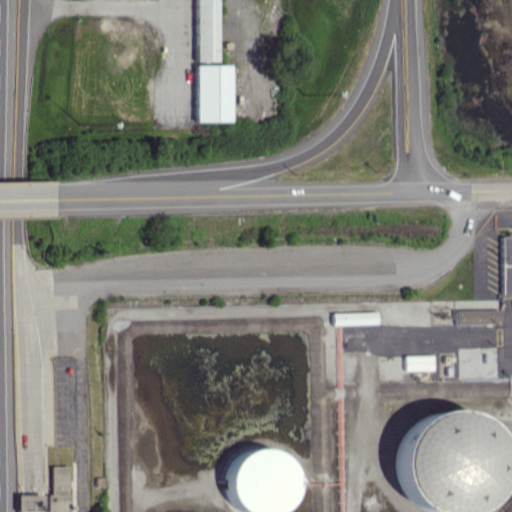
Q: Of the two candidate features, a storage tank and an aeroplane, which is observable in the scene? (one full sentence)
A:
I can see a storage tank in this picture.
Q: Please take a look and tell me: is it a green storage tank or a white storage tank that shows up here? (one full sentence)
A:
Of the two, only a white storage tank appears.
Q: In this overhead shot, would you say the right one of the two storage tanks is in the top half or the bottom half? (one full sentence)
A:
The bottom half of the photo is where the right one of the two storage tanks is.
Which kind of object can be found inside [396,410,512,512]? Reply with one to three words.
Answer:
storage tank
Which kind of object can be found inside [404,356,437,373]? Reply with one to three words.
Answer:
shed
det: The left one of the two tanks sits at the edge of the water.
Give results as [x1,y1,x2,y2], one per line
[218,450,309,512]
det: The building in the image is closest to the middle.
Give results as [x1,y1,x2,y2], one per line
[332,312,381,327]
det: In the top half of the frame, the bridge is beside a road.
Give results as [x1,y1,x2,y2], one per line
[0,182,58,219]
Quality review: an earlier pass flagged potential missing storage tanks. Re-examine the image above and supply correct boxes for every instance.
[218,450,309,512]
[396,410,512,512]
